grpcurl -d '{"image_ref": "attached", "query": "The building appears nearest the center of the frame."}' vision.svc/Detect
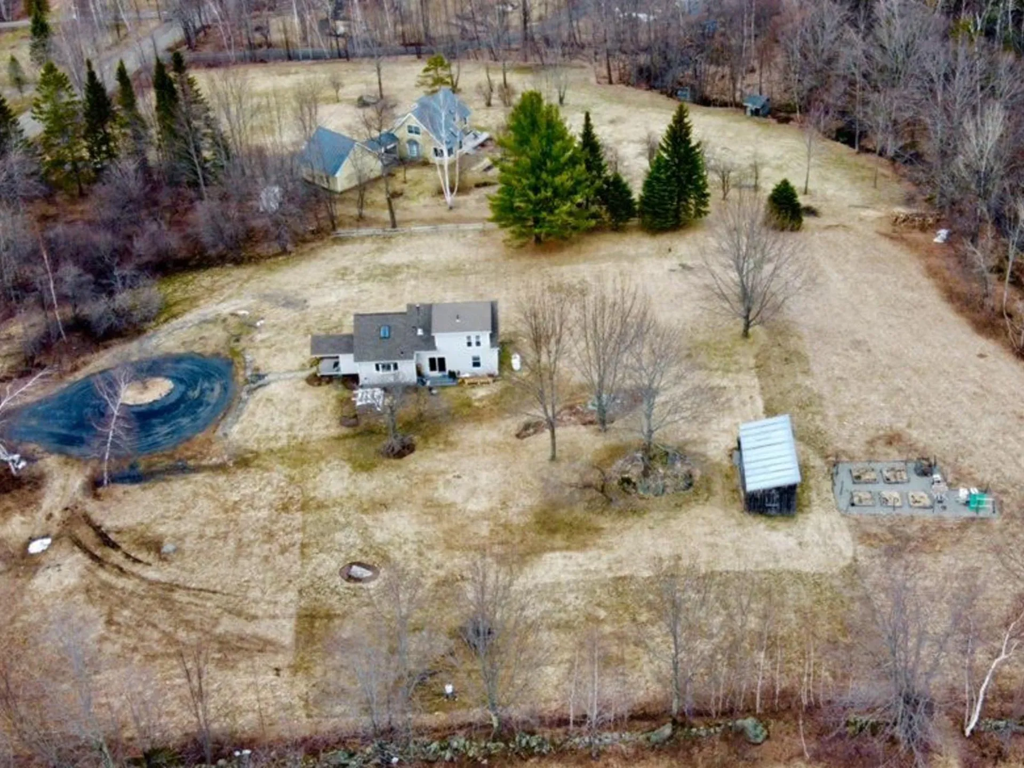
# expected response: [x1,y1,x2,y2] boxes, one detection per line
[310,300,499,390]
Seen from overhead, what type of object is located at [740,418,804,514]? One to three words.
shed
